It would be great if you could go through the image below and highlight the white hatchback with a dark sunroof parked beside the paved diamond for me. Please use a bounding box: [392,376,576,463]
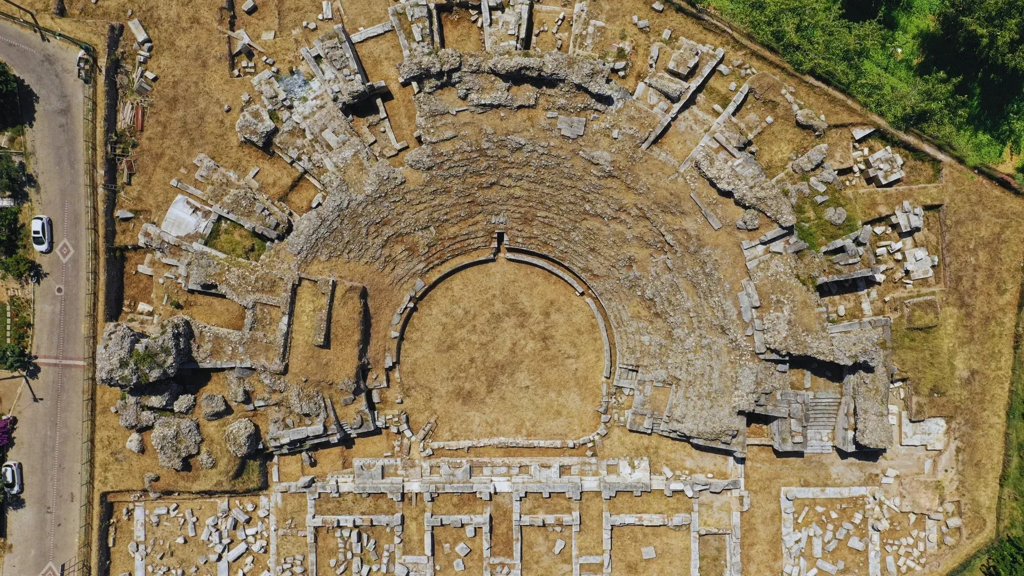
[27,215,51,254]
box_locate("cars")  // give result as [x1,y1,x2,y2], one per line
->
[0,460,22,496]
[27,215,51,254]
